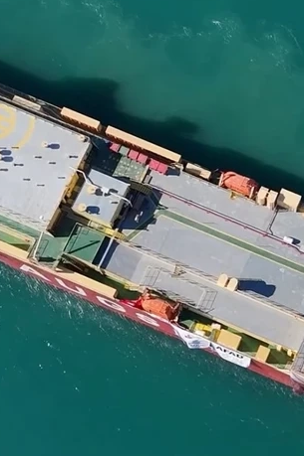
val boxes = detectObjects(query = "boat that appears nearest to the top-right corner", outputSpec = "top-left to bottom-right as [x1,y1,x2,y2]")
[219,172,260,195]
